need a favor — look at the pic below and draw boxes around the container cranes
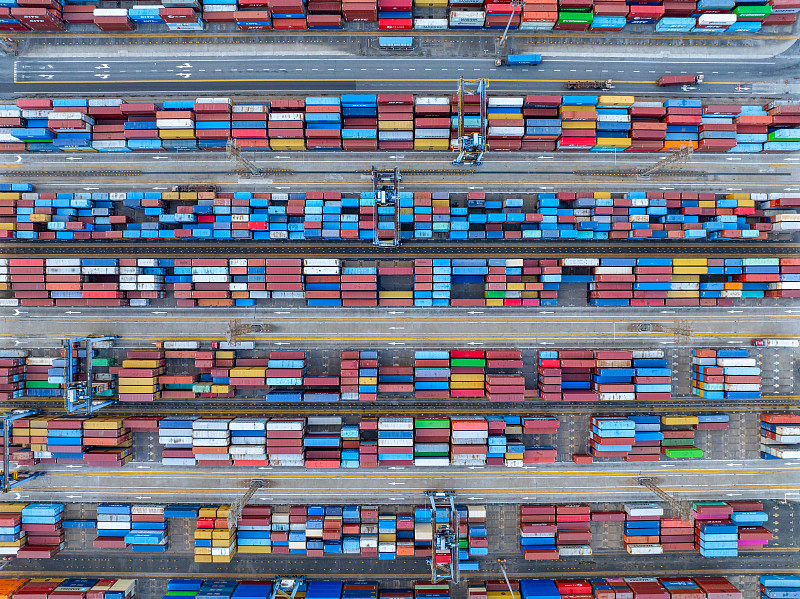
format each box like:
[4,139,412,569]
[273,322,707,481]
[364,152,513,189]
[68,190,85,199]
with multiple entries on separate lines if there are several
[65,333,130,412]
[267,573,312,599]
[0,408,54,505]
[365,166,408,250]
[445,77,488,167]
[419,490,462,590]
